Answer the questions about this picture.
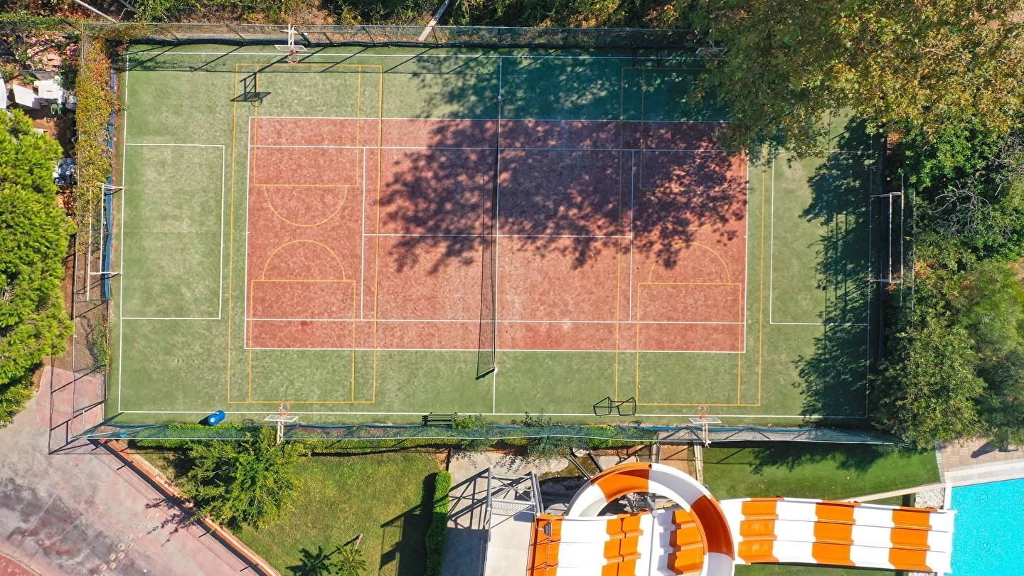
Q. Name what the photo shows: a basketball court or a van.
basketball court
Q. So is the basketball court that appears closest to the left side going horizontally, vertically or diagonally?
vertically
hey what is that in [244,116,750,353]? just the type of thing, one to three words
tennis court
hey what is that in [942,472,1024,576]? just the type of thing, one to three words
swimming pool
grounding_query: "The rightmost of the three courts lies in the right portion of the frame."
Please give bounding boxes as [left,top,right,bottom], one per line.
[615,67,766,407]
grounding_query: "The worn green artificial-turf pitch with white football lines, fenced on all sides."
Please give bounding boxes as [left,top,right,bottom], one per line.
[106,45,879,427]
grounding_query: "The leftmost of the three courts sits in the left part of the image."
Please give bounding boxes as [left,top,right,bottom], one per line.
[228,63,382,404]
